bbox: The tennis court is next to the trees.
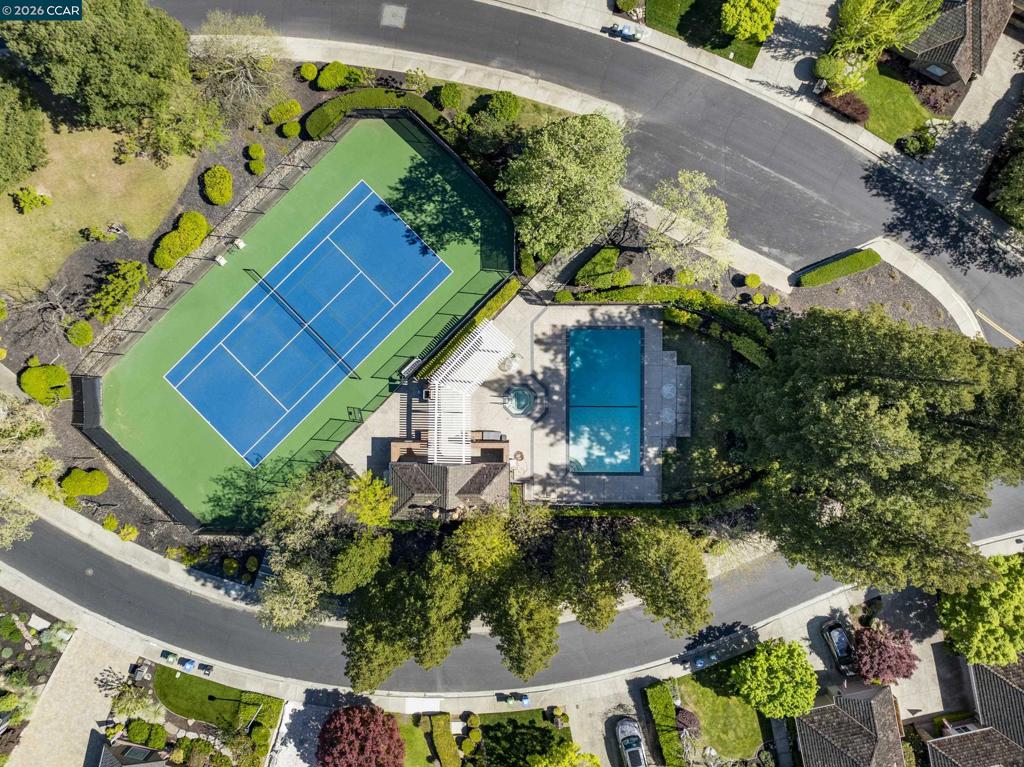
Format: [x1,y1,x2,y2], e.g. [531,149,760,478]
[100,119,514,527]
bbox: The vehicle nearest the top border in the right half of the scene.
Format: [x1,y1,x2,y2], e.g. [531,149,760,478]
[818,617,857,677]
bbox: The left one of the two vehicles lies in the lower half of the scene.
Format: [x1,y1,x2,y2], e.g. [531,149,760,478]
[618,714,649,767]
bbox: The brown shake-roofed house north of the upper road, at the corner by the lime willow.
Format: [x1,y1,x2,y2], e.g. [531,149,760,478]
[904,0,1018,85]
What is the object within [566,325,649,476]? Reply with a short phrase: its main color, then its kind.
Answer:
blue swimming pool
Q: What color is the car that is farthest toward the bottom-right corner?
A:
black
